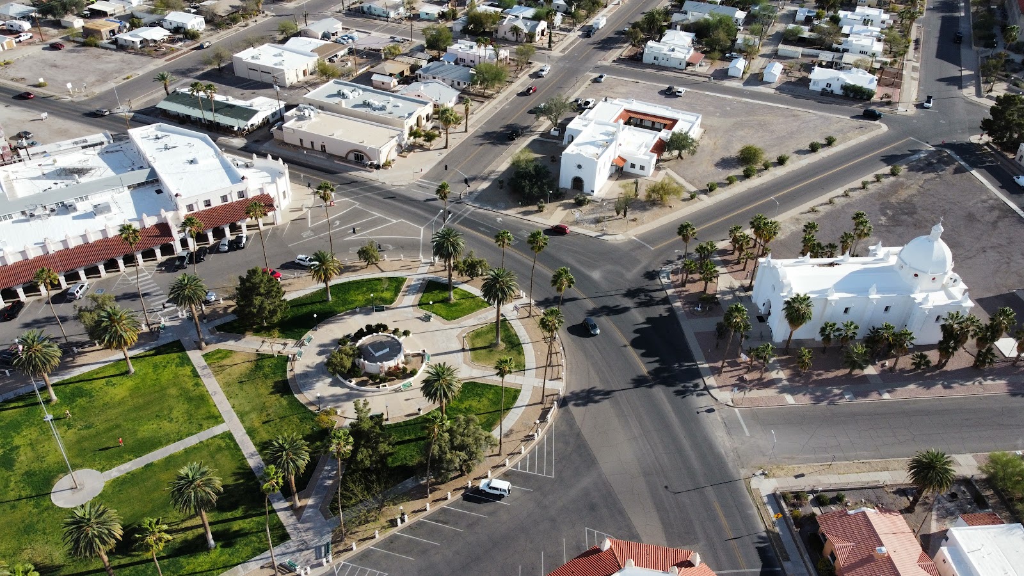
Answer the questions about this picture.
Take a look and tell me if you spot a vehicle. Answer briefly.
Yes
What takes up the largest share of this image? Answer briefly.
paved ground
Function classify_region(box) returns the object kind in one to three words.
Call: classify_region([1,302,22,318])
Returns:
car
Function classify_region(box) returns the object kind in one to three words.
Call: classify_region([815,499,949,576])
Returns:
house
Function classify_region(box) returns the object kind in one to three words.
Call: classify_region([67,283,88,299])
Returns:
vehicle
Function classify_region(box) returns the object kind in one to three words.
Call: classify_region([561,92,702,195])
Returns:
building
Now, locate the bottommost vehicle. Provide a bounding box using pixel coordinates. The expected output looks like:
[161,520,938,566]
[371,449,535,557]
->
[480,479,512,498]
